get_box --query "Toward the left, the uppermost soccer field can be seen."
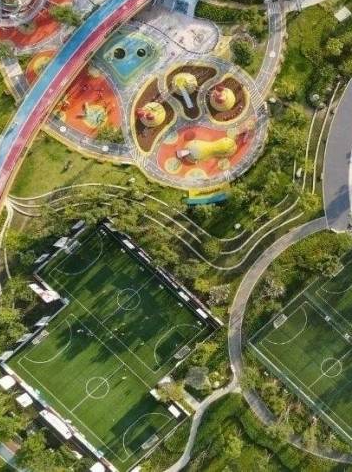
[36,221,222,383]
